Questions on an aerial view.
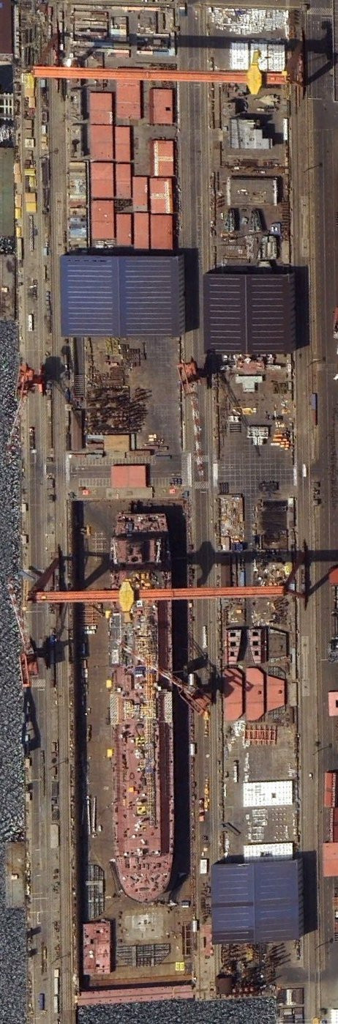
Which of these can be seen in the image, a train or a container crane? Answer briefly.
container crane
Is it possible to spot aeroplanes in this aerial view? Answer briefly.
No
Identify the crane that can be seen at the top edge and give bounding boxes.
[29,21,306,100]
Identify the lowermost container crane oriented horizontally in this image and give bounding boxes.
[27,541,308,614]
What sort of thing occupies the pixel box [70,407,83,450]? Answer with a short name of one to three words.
building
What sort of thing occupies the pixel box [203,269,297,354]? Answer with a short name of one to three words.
hangar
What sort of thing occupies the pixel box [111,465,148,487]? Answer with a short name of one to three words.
building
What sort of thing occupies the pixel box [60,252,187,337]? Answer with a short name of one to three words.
hangar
